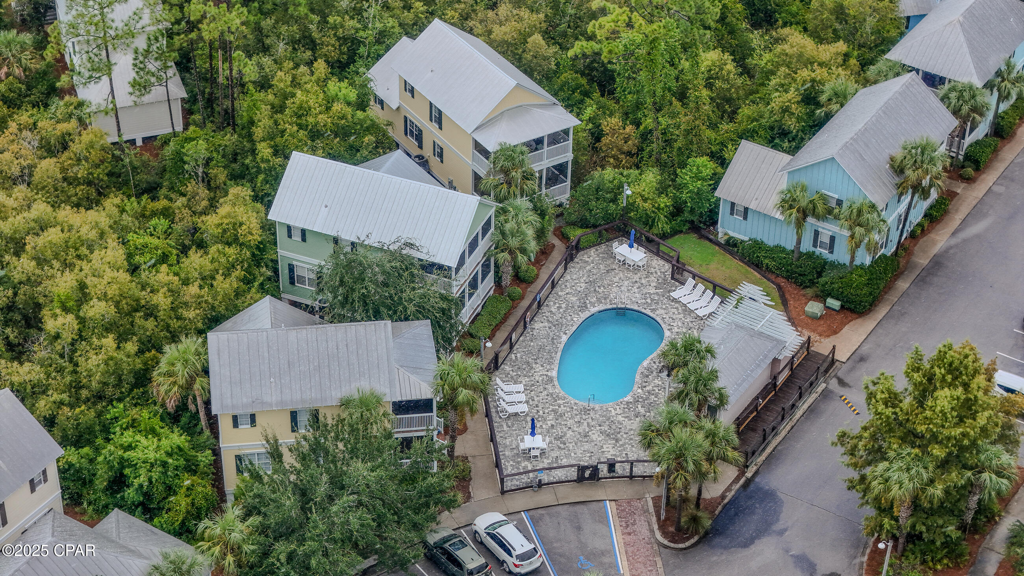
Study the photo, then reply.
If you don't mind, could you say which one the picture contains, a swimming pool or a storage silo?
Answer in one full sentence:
Of the two, only a swimming pool appears.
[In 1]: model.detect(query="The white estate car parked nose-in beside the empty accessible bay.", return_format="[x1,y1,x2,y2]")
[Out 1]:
[469,510,547,576]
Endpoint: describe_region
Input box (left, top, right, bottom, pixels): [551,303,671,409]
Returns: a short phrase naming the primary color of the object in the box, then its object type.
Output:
blue swimming pool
